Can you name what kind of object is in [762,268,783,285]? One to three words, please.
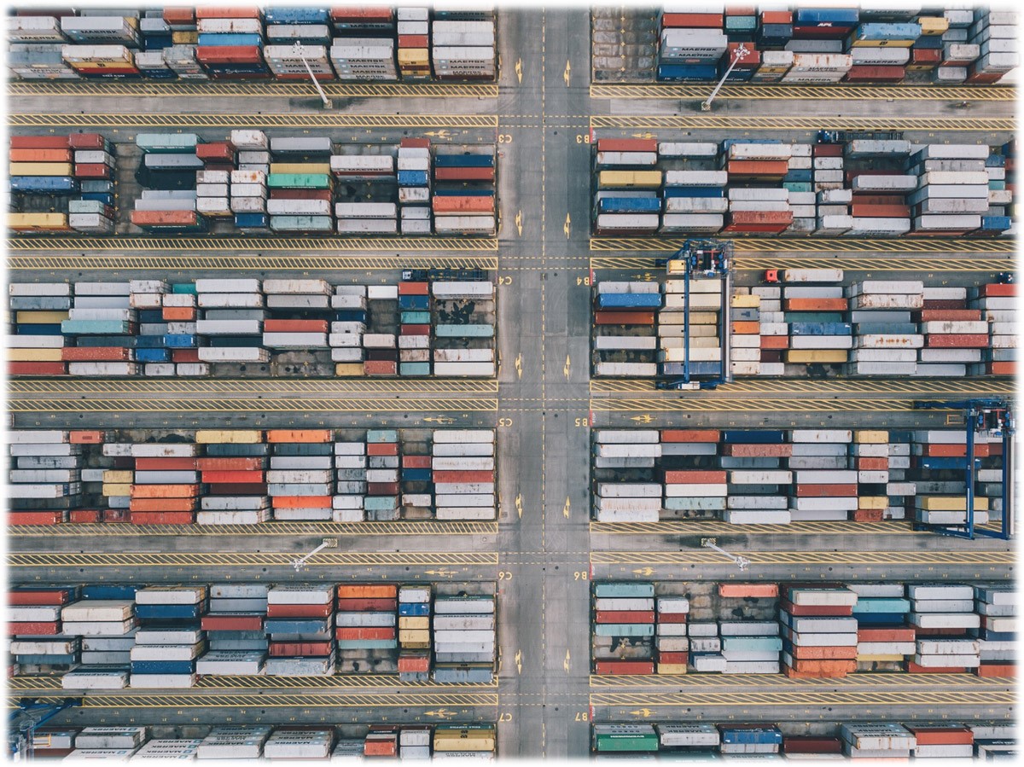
vehicle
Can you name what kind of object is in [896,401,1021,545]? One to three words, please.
container crane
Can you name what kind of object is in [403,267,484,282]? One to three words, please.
vehicle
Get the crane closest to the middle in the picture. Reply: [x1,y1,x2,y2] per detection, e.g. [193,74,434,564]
[648,239,739,389]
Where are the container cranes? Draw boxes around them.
[896,401,1021,545]
[648,239,739,389]
[0,700,99,767]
